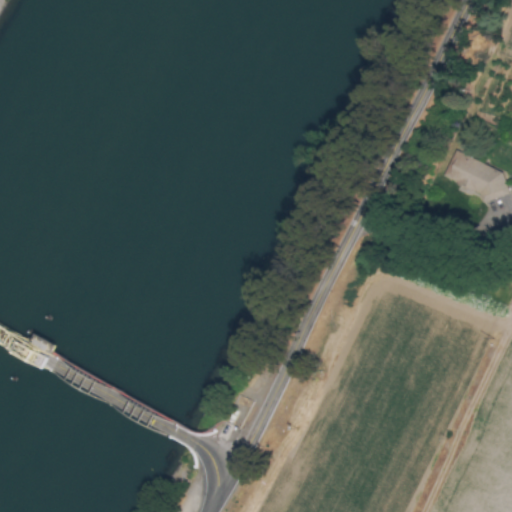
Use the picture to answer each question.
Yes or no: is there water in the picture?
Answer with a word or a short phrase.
Yes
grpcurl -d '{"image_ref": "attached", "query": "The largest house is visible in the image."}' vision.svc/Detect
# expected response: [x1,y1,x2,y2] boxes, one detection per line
[446,150,510,203]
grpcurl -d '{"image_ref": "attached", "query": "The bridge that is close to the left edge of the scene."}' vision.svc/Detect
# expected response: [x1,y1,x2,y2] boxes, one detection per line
[0,322,183,440]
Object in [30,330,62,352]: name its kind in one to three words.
building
